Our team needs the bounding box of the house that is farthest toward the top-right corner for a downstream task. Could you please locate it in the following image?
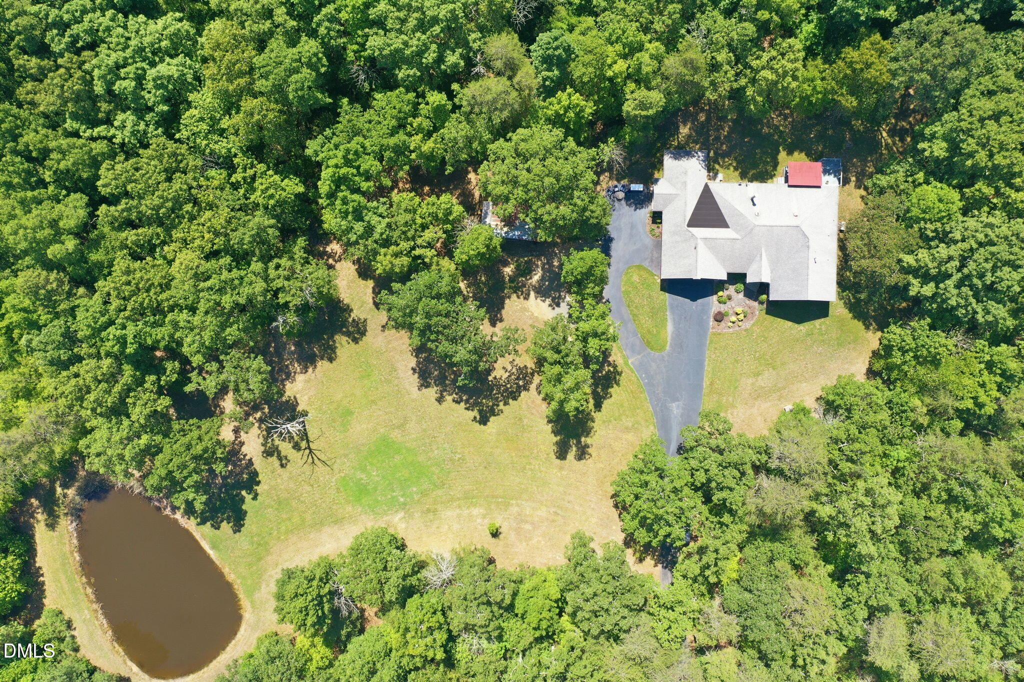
[652,149,839,300]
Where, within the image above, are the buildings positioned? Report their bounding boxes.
[483,200,543,246]
[652,149,839,300]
